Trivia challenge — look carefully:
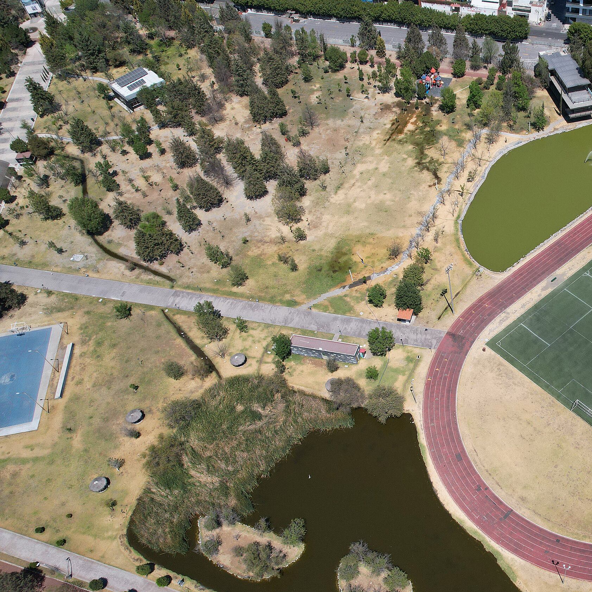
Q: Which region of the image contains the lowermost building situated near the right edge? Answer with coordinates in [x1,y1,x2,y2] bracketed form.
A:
[538,47,592,118]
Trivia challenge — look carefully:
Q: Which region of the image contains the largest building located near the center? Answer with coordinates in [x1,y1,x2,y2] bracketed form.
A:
[290,334,366,363]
